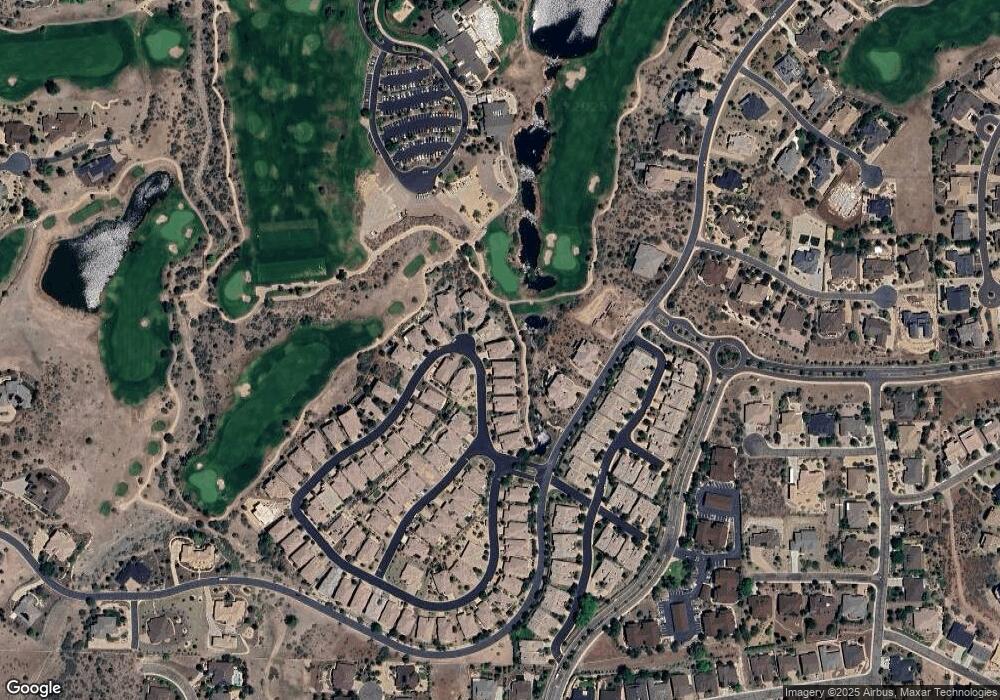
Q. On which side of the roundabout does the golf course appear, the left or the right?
to its left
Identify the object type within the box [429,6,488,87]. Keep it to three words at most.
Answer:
building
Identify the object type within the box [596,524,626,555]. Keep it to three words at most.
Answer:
house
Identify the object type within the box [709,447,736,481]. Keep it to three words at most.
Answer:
building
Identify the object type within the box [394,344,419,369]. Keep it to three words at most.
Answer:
house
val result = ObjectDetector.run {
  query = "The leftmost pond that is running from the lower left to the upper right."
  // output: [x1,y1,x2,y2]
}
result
[41,171,171,310]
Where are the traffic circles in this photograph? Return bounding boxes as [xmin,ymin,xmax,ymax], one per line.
[708,338,749,377]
